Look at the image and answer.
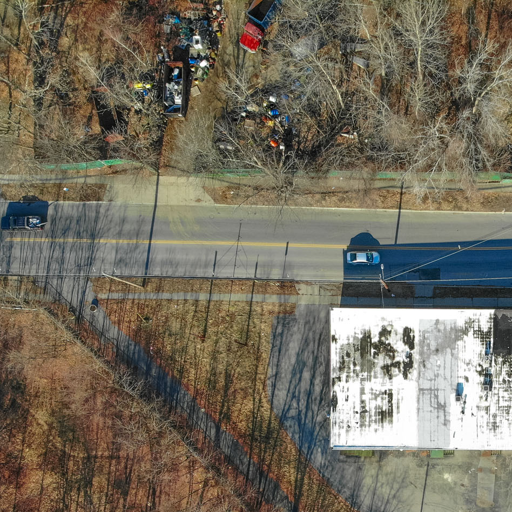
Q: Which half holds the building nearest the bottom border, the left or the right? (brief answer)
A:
right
